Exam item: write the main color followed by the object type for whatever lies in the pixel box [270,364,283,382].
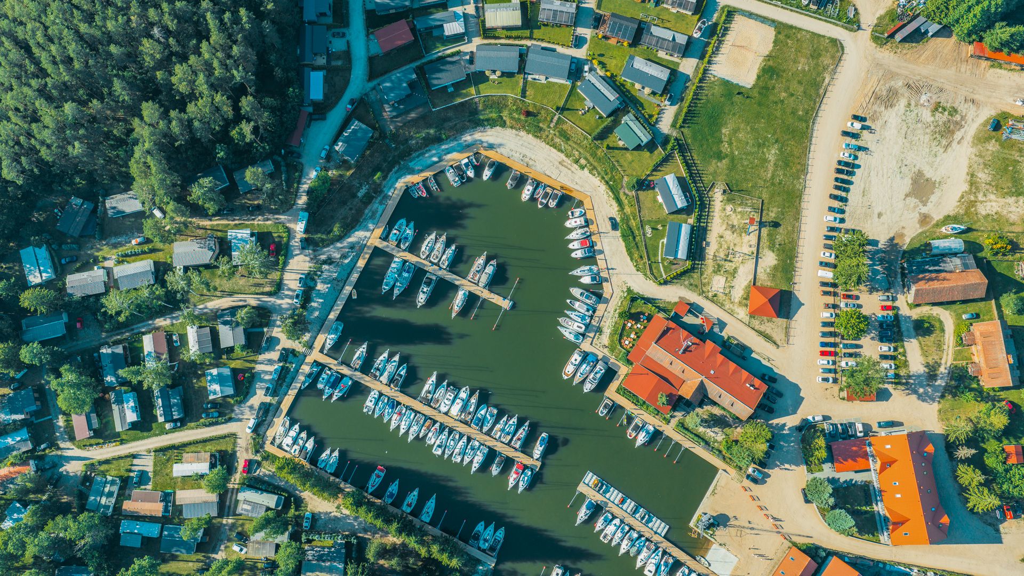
blue vehicle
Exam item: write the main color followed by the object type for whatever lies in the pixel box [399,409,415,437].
white boat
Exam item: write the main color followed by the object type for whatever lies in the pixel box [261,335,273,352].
blue vehicle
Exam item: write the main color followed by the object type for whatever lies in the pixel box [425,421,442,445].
white boat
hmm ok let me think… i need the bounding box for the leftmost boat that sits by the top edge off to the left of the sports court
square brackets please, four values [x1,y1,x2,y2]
[690,18,707,39]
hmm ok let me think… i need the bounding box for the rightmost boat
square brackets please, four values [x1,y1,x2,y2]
[939,218,981,235]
